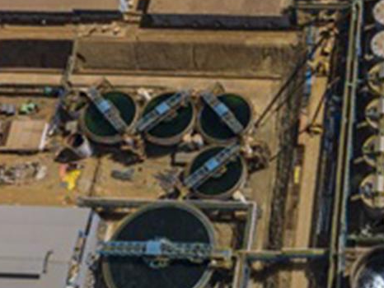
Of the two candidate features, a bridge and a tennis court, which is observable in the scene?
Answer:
bridge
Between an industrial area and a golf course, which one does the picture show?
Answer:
industrial area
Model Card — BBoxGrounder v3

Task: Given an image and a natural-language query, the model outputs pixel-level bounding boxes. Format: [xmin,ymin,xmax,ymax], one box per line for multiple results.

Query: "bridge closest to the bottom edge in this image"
[91,241,228,259]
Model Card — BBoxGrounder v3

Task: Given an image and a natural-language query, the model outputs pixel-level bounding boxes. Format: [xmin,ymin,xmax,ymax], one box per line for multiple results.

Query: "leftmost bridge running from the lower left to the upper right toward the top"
[134,88,194,137]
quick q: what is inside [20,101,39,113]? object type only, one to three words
vehicle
